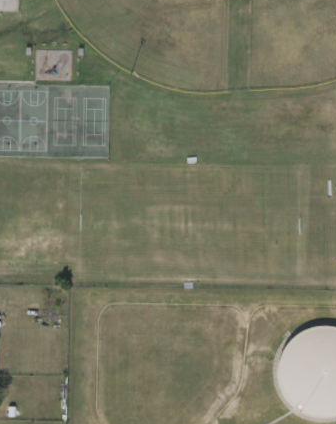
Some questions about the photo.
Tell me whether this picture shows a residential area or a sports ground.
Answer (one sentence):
The picture captures a sports ground.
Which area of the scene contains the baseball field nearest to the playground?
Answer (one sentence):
You can find the baseball field nearest to the playground in the top area of the picture.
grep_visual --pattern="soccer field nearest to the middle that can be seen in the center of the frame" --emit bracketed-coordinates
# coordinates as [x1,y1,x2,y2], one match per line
[80,164,300,280]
